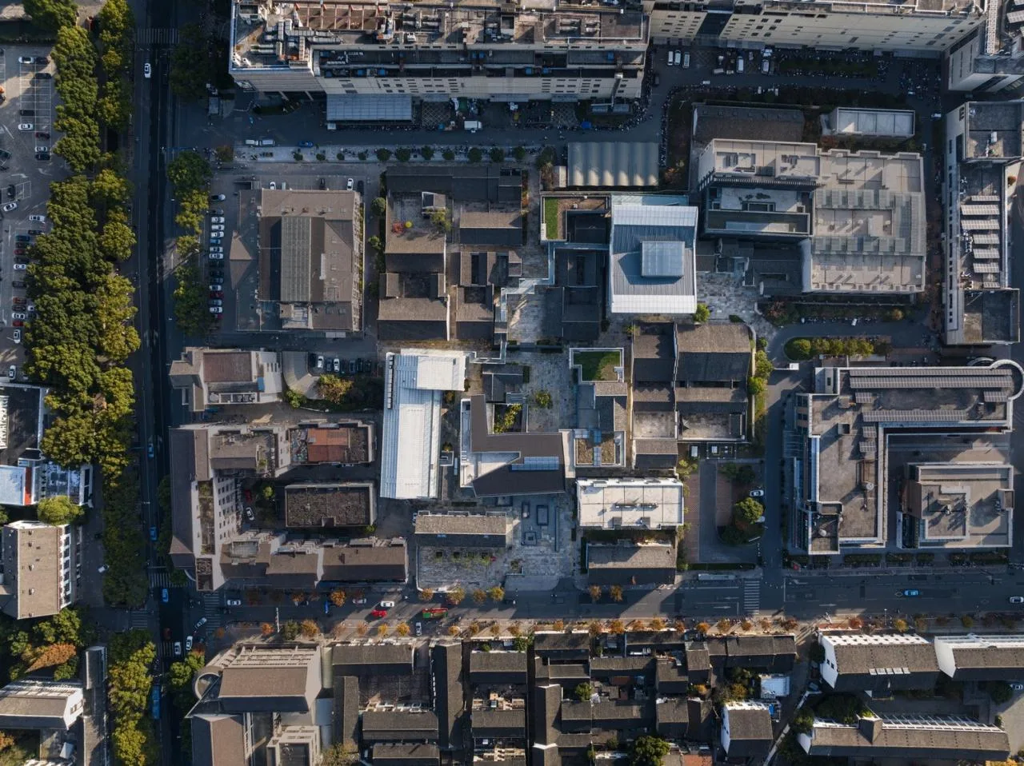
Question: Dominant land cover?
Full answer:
The scene is dominated by buildings.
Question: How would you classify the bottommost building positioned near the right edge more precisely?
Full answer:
From above, the bottommost building positioned near the right edge can be identified as a home.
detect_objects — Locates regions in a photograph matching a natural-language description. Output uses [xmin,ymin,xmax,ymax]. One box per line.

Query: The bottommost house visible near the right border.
[802,710,1014,761]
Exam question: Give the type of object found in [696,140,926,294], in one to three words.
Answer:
building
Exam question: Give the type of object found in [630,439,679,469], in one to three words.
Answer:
house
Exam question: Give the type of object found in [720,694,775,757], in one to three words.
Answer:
house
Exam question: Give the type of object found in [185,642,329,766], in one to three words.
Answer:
building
